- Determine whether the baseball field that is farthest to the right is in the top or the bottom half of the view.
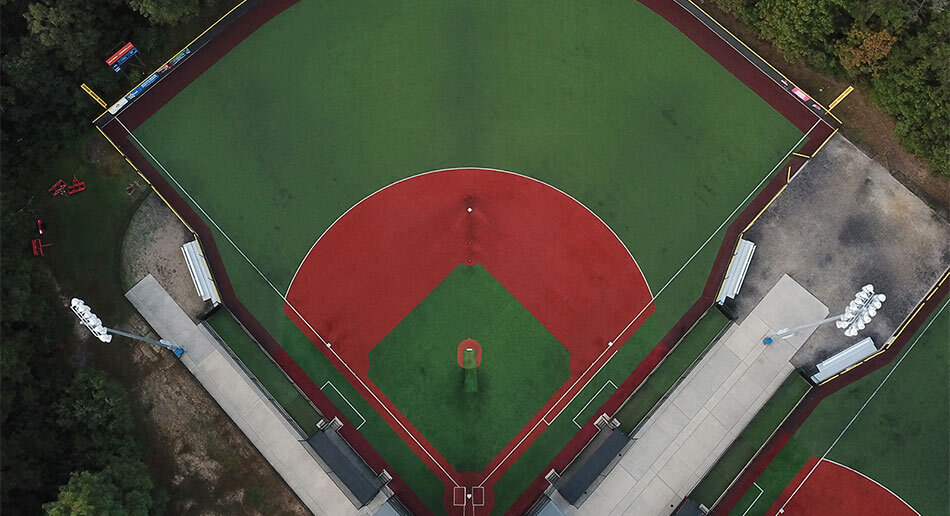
bottom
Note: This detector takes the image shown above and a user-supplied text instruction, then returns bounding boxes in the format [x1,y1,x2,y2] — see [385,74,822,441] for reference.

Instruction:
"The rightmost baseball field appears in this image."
[707,273,950,516]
